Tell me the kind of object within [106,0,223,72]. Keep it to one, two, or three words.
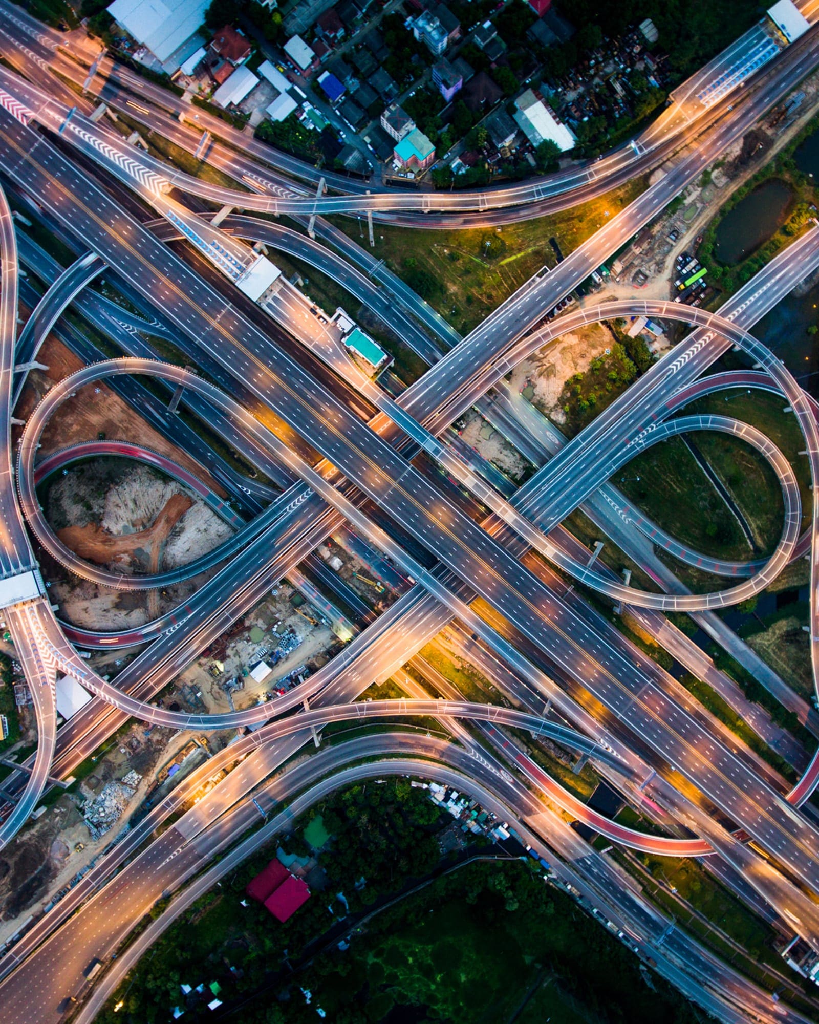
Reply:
building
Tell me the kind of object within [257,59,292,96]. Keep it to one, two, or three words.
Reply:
shed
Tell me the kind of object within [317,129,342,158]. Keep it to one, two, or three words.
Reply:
house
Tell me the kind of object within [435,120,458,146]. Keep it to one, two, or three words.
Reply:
house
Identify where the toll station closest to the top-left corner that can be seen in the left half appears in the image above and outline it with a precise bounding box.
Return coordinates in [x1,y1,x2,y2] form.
[233,252,289,311]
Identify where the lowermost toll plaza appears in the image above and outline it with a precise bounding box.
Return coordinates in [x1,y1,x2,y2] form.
[0,563,46,614]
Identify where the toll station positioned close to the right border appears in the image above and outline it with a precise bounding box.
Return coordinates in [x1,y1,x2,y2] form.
[755,0,811,53]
